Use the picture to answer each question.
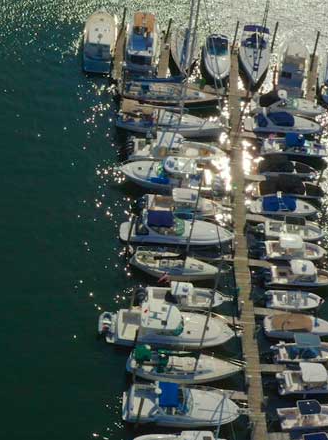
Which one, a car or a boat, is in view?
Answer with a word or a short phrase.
boat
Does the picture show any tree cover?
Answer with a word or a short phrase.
No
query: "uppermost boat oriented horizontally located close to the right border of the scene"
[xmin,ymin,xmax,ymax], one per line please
[246,87,328,122]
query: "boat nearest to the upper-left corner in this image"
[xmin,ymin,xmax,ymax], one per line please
[79,7,118,78]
